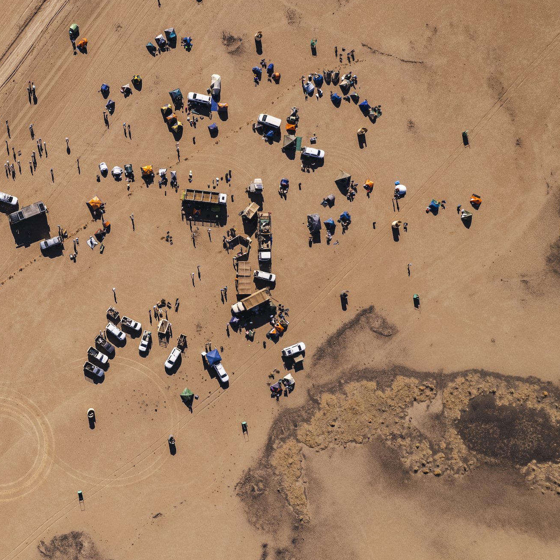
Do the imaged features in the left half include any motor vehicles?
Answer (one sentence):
Yes, a motor vehicle appears in the left half.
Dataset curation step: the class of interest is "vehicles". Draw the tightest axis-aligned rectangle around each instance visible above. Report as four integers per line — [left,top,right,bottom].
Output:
[280,341,305,356]
[298,146,324,159]
[257,215,272,260]
[85,345,108,363]
[0,192,18,206]
[183,189,225,206]
[38,235,65,250]
[103,321,126,340]
[186,93,212,105]
[256,113,282,128]
[231,285,273,313]
[138,327,153,352]
[10,202,47,226]
[81,360,105,376]
[248,176,264,194]
[91,333,114,352]
[164,344,182,368]
[212,361,229,384]
[250,269,276,282]
[118,314,143,330]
